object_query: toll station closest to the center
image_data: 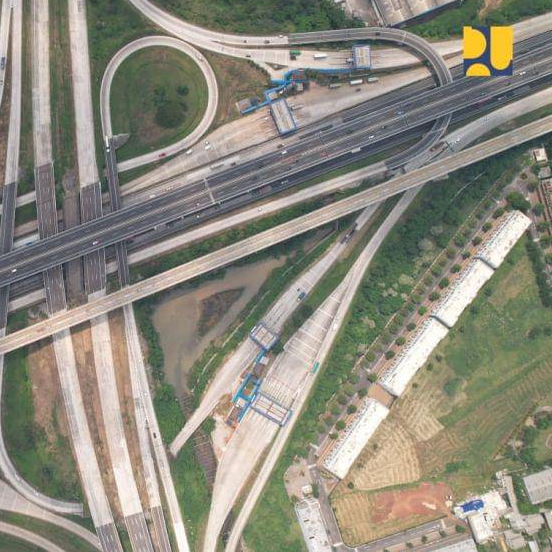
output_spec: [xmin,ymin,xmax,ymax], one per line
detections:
[233,258,330,367]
